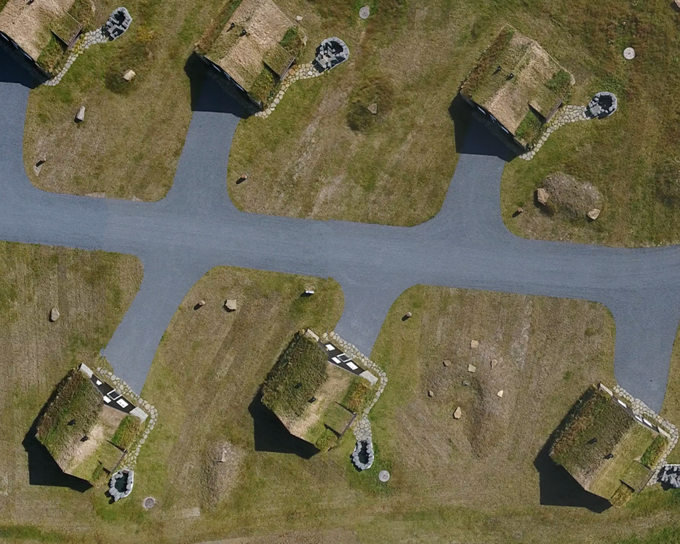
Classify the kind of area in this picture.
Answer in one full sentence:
This looks like a residential area.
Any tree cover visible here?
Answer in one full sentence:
No, no tree cover is visible.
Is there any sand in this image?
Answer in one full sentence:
No, the picture contains no sand.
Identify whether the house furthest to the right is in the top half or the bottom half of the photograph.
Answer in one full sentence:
It is in the bottom half that the house furthest to the right appears.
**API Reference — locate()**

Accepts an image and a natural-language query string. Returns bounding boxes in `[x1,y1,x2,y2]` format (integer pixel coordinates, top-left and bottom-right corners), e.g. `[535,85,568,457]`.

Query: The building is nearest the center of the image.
[258,324,378,455]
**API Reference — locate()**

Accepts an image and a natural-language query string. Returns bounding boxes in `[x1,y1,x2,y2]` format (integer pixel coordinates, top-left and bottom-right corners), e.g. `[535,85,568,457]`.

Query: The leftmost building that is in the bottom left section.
[32,359,151,490]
